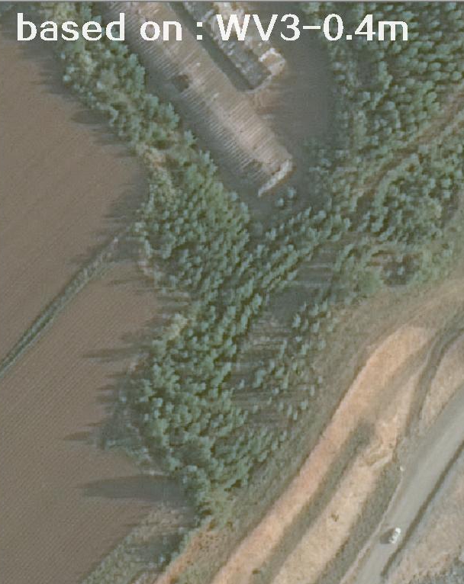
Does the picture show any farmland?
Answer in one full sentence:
Yes, the picture does contain farmland.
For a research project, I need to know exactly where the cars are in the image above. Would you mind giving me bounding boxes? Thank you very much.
[387,527,400,543]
